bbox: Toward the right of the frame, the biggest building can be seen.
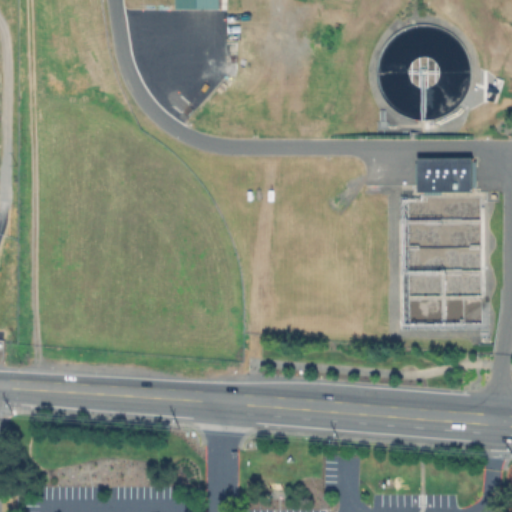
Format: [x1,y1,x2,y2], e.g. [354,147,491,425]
[416,158,476,194]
